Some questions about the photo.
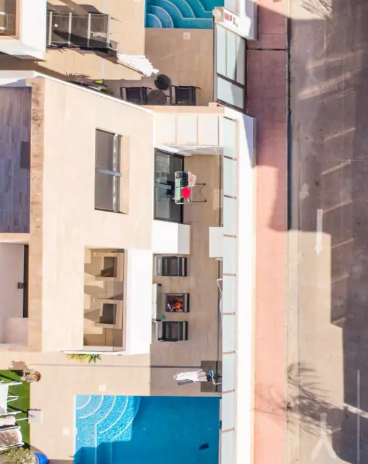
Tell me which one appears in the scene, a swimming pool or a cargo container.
swimming pool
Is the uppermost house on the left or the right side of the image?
left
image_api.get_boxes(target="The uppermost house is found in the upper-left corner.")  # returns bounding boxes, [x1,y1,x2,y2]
[0,0,65,58]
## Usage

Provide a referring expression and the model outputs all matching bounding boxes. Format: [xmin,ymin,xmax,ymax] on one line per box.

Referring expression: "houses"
[0,76,189,355]
[0,0,65,58]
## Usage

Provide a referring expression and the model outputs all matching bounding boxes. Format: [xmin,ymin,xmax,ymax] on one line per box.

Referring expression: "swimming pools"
[144,0,211,28]
[72,396,220,464]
